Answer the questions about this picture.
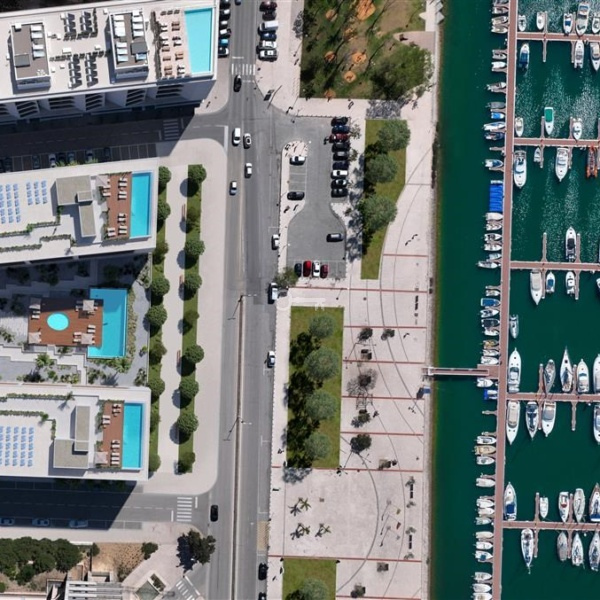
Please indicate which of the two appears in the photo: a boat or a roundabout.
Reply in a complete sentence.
I can see a boat in this picture.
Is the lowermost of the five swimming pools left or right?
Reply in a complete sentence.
The lowermost of the five swimming pools appears in the left half of the scene.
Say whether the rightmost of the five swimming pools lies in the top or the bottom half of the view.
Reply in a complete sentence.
Seen from above, the rightmost of the five swimming pools lies in the top half of the view.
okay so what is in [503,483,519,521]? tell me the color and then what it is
white boat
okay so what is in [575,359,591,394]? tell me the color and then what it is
white boat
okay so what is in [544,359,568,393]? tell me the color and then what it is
gray boat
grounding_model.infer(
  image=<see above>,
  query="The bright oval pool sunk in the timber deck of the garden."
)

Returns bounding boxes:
[46,311,70,330]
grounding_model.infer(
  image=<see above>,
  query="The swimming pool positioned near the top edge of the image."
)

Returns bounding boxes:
[182,6,214,76]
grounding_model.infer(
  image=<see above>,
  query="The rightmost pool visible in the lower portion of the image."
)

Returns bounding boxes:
[120,401,145,469]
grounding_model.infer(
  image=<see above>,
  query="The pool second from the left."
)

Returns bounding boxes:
[87,288,128,359]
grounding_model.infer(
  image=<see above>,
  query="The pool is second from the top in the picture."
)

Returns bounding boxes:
[128,172,154,239]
